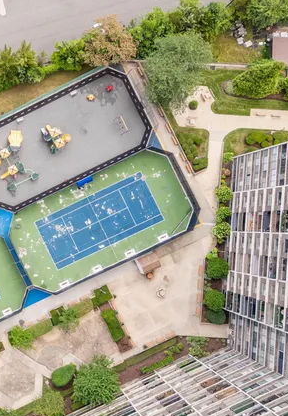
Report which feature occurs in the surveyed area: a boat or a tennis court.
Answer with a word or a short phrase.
tennis court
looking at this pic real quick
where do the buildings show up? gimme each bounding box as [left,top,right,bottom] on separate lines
[61,143,288,416]
[264,38,288,72]
[137,252,167,277]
